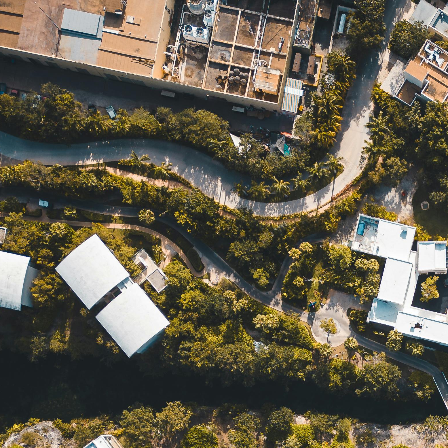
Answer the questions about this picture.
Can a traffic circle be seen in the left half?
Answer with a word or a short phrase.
No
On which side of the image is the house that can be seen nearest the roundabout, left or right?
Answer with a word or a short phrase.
right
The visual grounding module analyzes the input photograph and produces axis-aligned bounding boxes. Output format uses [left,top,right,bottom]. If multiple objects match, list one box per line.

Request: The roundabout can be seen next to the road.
[311,315,350,350]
